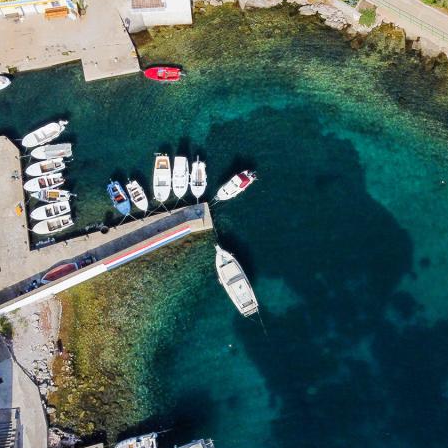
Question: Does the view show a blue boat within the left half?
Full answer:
Yes, a blue boat can be seen within the left half.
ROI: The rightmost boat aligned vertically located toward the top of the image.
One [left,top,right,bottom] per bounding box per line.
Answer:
[189,152,208,199]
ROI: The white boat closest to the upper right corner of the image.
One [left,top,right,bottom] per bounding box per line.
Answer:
[215,169,254,200]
